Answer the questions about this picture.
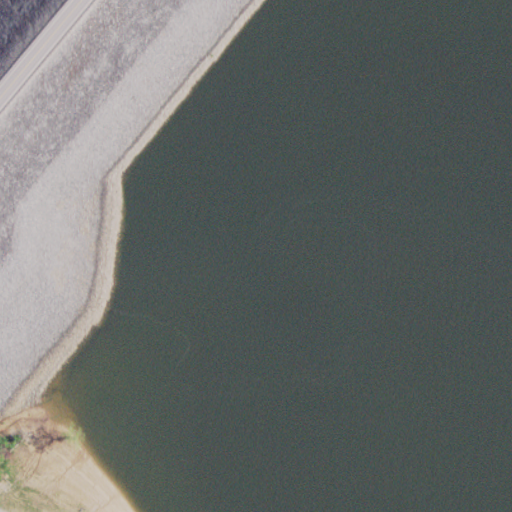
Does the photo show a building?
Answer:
No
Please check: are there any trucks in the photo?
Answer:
No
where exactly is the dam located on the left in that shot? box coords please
[0,0,274,426]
